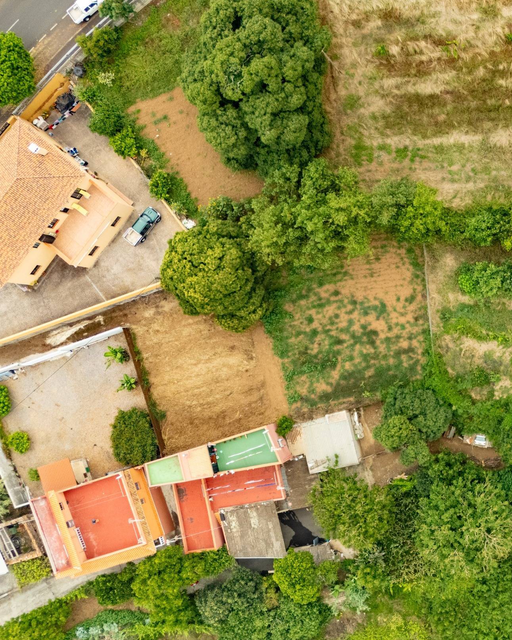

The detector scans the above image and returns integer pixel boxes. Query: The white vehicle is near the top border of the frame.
[69,0,103,20]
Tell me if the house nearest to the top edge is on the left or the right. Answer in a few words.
left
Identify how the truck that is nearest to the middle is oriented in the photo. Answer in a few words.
at an angle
